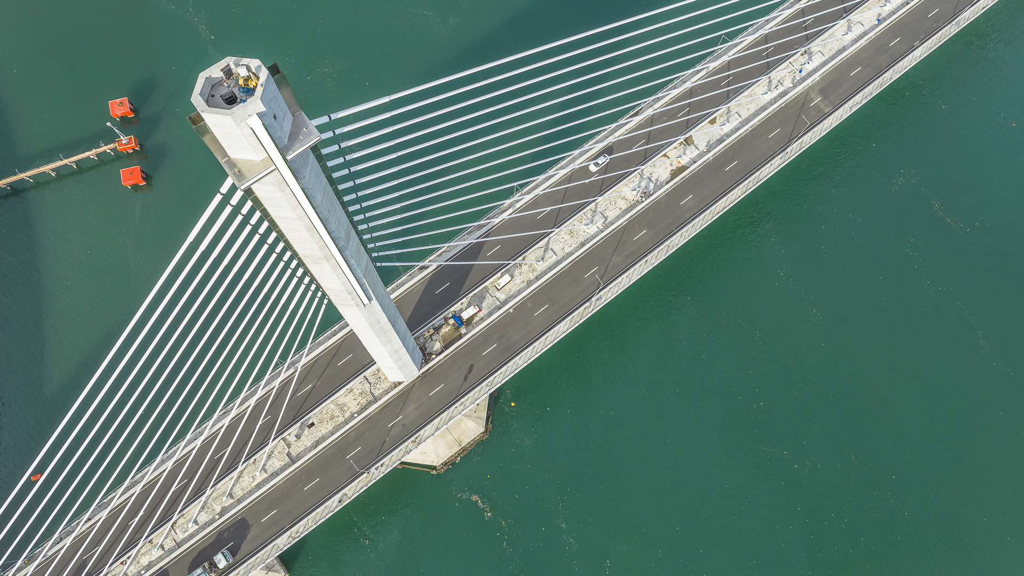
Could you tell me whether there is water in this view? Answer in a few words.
Yes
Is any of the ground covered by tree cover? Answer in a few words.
No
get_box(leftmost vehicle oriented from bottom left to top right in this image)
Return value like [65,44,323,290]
[192,549,239,576]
